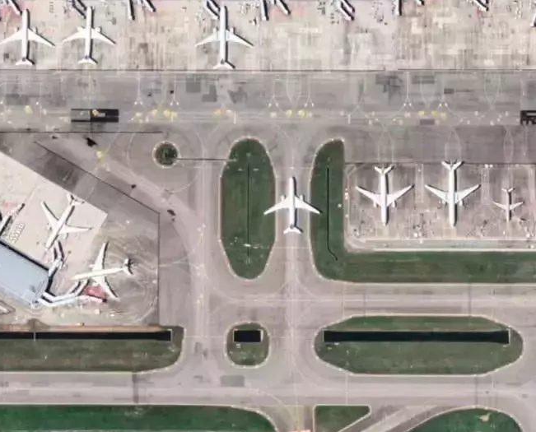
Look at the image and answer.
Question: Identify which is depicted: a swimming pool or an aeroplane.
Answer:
aeroplane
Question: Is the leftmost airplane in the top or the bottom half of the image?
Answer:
top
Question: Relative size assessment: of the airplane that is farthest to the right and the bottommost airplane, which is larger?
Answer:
the bottommost airplane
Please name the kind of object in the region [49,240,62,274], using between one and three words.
jet bridge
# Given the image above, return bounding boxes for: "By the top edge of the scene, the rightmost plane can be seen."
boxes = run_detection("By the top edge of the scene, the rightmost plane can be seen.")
[194,5,251,69]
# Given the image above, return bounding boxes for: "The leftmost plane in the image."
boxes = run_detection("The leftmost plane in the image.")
[0,10,53,66]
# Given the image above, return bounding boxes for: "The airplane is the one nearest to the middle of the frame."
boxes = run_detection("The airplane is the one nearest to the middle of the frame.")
[264,177,320,233]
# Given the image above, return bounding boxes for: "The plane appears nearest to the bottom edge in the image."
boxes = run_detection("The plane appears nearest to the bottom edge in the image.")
[73,241,130,299]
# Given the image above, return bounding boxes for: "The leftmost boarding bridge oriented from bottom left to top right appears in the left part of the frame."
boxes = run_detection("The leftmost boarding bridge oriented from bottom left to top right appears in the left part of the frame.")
[0,204,26,239]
